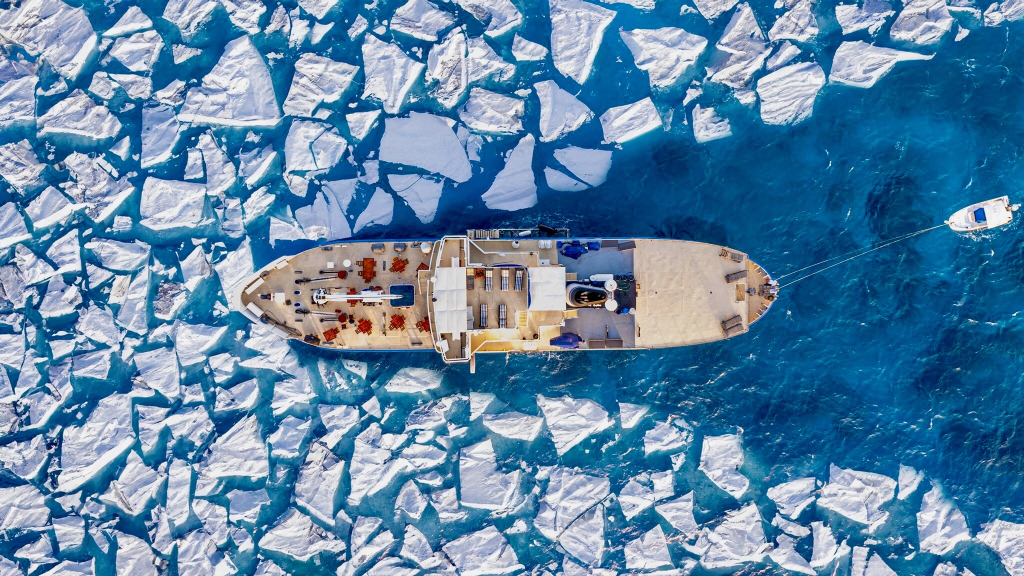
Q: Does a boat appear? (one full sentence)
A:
Yes, the photo shows a boat.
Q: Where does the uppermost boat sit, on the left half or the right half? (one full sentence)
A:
The uppermost boat is on the right side of the image.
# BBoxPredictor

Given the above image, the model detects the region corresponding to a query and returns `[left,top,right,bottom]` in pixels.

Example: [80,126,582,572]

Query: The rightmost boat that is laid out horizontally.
[944,195,1022,231]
